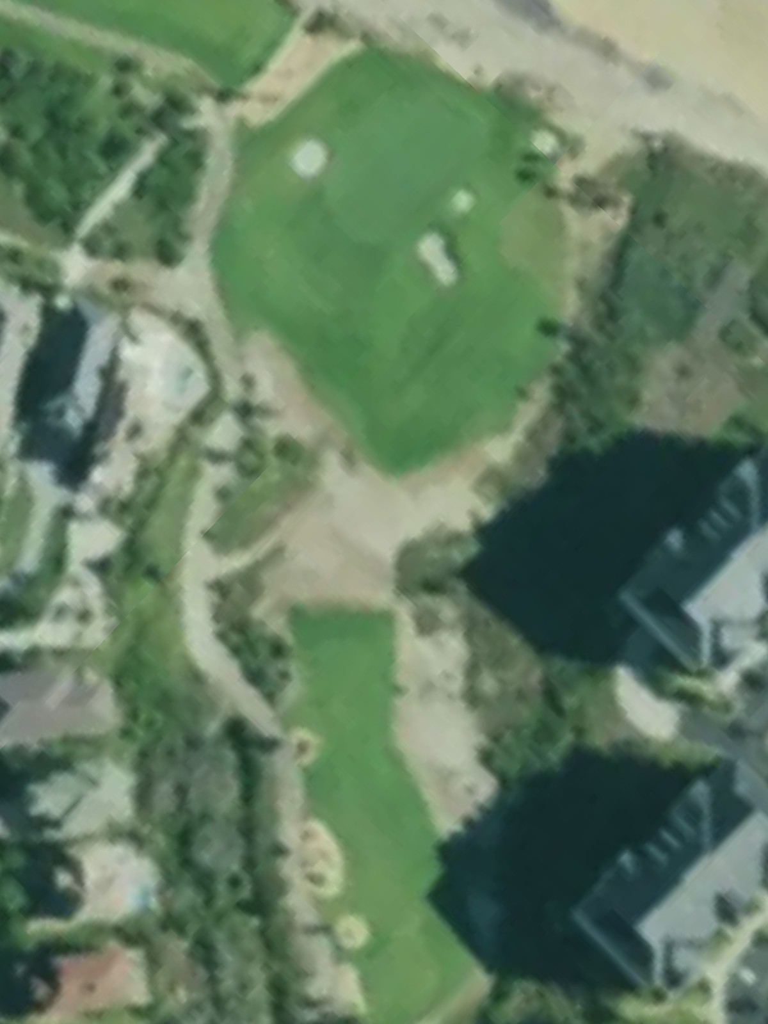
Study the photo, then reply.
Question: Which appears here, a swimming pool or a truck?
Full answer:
It is a swimming pool that can be seen here.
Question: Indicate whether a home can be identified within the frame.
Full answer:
Yes, this view includes a home.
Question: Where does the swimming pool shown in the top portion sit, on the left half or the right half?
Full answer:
You can find the swimming pool shown in the top portion on the left side of the picture.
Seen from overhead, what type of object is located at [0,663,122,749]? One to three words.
house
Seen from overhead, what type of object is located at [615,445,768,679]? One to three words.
building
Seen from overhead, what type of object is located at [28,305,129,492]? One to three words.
building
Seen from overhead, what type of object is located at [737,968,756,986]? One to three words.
car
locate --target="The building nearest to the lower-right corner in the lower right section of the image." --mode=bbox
[564,752,768,992]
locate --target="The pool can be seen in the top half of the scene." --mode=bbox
[169,365,196,395]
